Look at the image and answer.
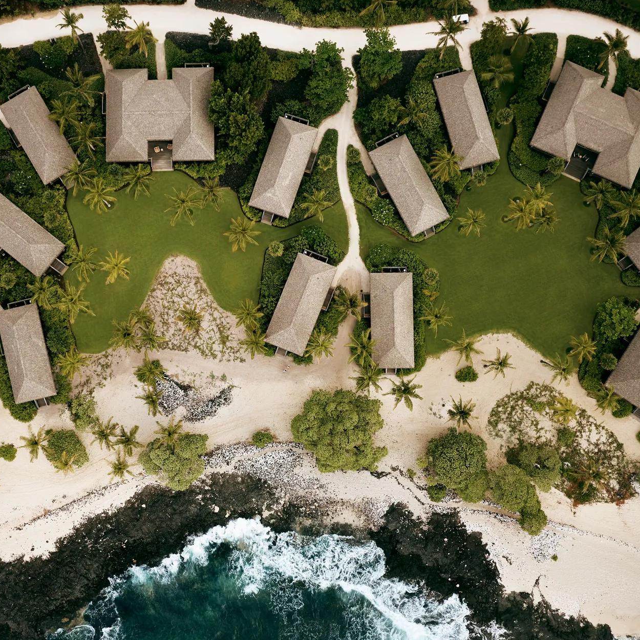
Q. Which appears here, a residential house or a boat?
residential house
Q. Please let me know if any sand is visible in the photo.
Yes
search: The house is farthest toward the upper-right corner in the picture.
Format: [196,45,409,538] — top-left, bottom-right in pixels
[529,60,640,188]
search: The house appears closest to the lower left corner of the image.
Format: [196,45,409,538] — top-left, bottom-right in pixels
[0,298,57,413]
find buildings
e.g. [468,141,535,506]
[0,298,57,413]
[431,68,500,185]
[0,84,79,195]
[361,266,414,382]
[602,324,640,425]
[367,132,449,245]
[263,249,337,363]
[607,228,640,277]
[249,113,318,231]
[529,60,640,188]
[103,65,214,178]
[0,193,72,278]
